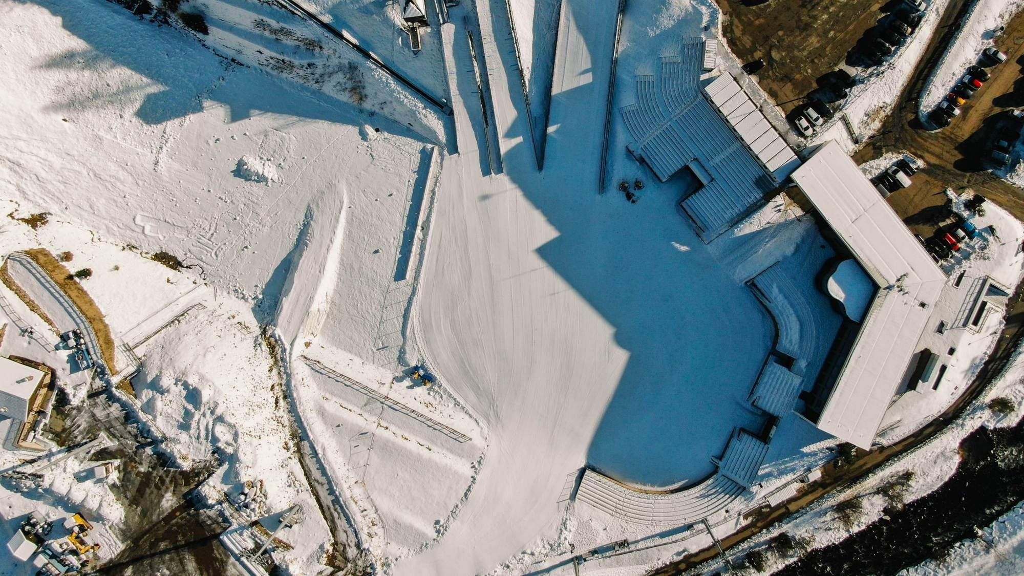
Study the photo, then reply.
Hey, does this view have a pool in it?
No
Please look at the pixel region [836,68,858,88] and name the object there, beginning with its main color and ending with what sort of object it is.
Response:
black car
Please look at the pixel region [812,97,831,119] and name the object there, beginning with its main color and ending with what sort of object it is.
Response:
black car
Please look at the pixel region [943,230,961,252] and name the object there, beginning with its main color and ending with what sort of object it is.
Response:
red car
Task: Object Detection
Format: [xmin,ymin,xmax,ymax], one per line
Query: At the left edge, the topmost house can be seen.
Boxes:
[0,354,59,453]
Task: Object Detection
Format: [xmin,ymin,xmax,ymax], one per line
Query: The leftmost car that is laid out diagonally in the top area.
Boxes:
[743,58,765,75]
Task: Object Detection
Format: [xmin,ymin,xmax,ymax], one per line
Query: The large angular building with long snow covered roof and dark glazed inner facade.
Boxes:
[770,140,947,450]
